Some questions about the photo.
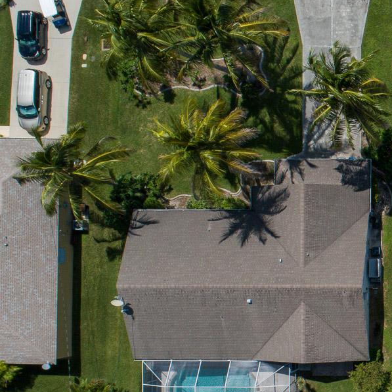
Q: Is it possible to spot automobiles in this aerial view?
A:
Yes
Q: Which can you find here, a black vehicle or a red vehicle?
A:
black vehicle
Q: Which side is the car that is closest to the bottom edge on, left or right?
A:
left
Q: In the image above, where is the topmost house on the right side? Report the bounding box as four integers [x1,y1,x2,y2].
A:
[117,159,372,364]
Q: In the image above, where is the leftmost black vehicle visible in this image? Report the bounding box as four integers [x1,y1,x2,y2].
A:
[16,8,50,62]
